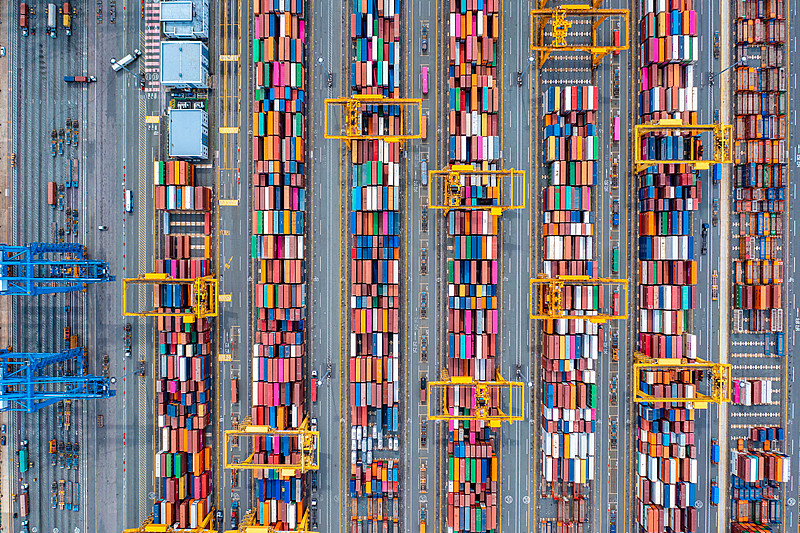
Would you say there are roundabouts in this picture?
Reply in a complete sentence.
No, there's no roundabout here.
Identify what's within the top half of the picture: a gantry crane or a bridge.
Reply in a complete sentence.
The one visible within the top half of the picture is a gantry crane.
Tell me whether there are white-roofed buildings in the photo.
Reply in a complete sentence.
No, no white-roofed building can be seen from above.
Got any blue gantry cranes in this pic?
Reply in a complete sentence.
Yes, a blue gantry crane is visible in the scene.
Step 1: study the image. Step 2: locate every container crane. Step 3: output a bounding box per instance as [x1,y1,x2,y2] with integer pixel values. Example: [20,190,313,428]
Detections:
[325,90,423,150]
[224,413,319,478]
[123,506,217,533]
[633,350,732,410]
[123,268,218,324]
[530,270,629,327]
[530,4,630,67]
[634,116,734,173]
[429,164,525,216]
[428,367,524,428]
[0,238,121,298]
[225,506,318,533]
[0,341,121,416]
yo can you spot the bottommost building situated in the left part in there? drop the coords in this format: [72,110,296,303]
[169,109,209,161]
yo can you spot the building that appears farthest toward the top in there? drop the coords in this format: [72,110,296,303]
[160,0,209,41]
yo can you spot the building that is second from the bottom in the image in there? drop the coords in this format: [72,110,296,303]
[161,41,208,88]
